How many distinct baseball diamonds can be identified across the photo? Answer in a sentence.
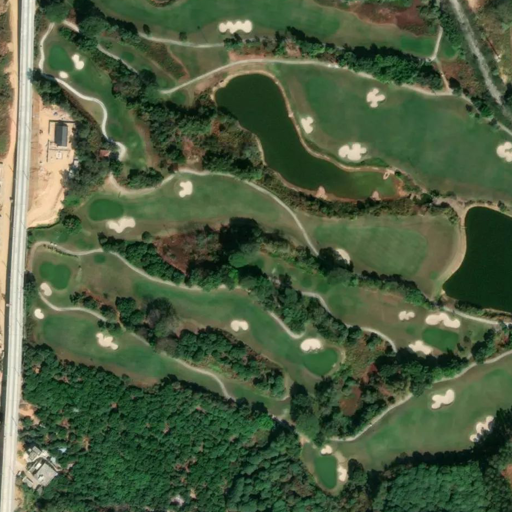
The picture shows no baseball diamonds.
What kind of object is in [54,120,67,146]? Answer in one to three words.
shed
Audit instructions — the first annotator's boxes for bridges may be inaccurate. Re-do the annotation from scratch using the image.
[0,0,34,512]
